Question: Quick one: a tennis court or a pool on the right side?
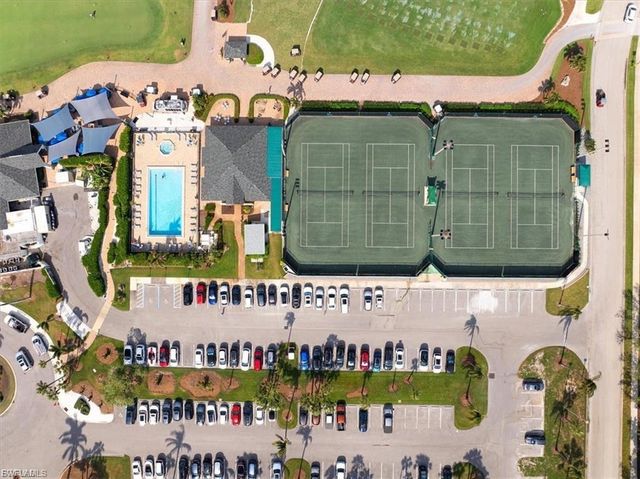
tennis court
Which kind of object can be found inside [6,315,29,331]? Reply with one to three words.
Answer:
car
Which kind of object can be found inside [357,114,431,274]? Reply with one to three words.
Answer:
tennis court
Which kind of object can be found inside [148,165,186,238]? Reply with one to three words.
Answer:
swimming pool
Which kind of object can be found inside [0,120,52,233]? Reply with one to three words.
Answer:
building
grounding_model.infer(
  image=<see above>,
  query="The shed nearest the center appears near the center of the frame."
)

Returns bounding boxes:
[244,224,265,255]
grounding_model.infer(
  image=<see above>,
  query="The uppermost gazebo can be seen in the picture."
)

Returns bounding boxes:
[224,39,249,60]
